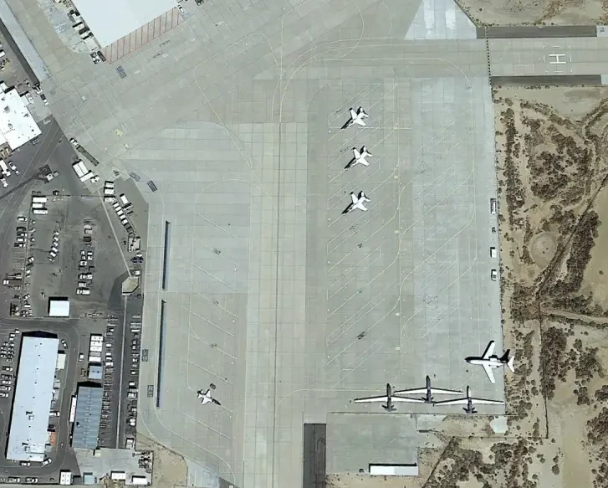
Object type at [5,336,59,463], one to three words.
building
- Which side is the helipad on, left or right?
right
